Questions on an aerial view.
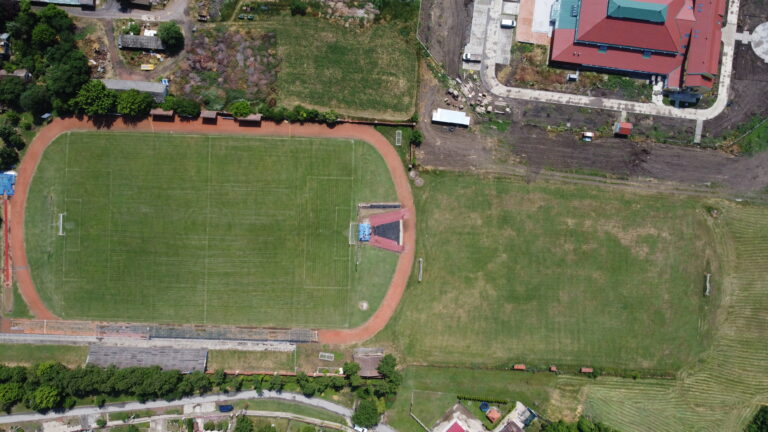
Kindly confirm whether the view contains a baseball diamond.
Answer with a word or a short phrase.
No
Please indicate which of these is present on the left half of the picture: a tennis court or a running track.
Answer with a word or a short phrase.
running track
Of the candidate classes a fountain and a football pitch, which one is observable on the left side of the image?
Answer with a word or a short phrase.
football pitch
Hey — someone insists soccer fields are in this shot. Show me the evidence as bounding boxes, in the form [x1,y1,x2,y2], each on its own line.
[25,130,400,330]
[395,176,718,364]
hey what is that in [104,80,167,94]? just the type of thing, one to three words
shed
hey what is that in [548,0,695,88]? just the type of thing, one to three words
building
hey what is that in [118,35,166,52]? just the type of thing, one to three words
barn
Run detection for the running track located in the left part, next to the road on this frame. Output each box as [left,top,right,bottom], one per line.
[11,118,416,345]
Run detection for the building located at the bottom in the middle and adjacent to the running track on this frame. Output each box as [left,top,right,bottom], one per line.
[352,346,385,376]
